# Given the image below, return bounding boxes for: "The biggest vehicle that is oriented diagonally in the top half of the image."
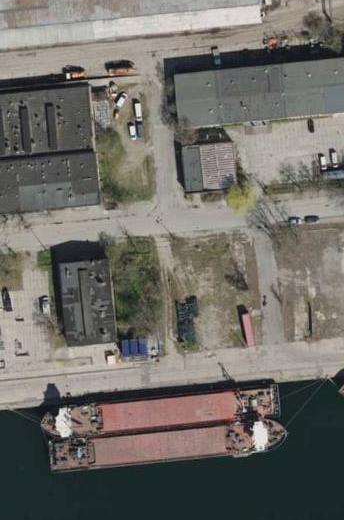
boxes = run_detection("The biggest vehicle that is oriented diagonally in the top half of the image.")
[114,92,128,109]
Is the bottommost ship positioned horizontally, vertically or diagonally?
horizontally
